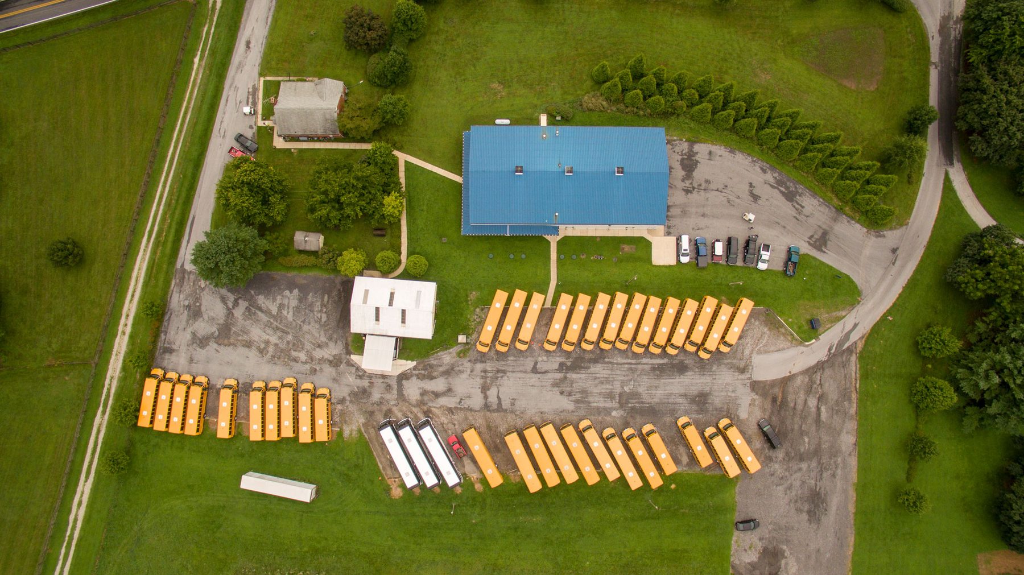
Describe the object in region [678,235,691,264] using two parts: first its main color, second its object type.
white vehicle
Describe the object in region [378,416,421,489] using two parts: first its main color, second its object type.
white bus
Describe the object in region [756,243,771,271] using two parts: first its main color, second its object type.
white vehicle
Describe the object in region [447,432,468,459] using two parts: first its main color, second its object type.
red truck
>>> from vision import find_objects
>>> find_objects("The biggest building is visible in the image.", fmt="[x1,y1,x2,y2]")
[459,124,670,238]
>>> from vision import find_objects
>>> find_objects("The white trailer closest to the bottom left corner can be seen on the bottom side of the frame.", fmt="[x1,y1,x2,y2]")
[240,471,316,502]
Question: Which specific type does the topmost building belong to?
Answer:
house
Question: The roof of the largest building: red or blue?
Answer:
blue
